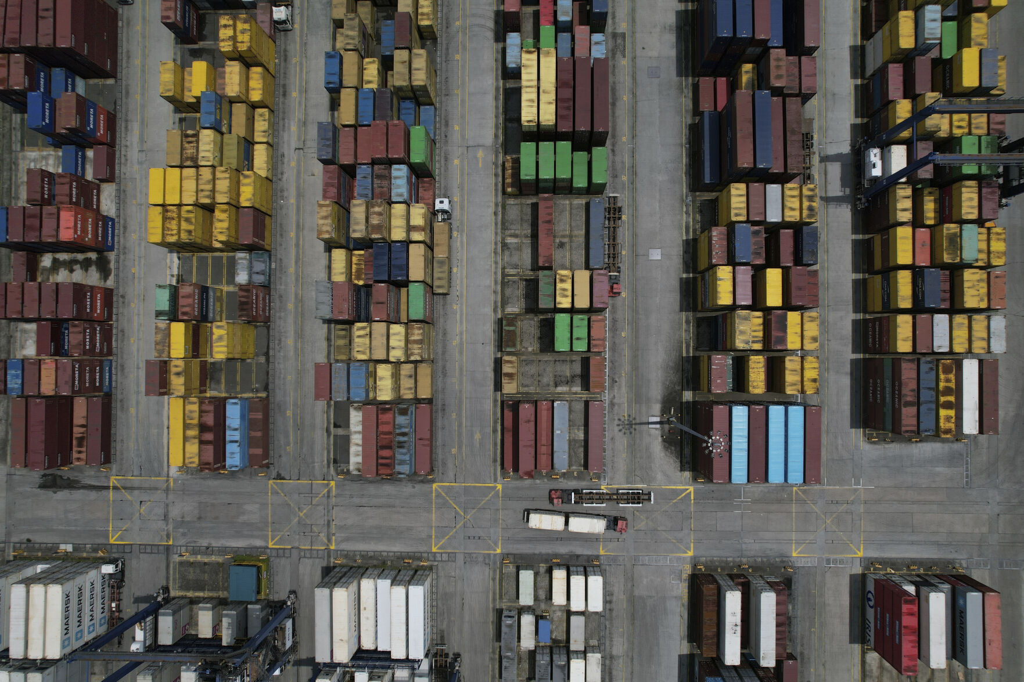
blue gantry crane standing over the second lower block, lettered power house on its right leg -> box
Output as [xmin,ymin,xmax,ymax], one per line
[75,589,296,682]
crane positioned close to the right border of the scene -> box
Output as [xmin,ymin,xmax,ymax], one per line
[861,96,1024,212]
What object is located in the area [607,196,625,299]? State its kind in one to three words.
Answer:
vehicle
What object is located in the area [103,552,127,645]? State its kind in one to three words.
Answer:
truck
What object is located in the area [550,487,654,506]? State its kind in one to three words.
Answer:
vehicle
